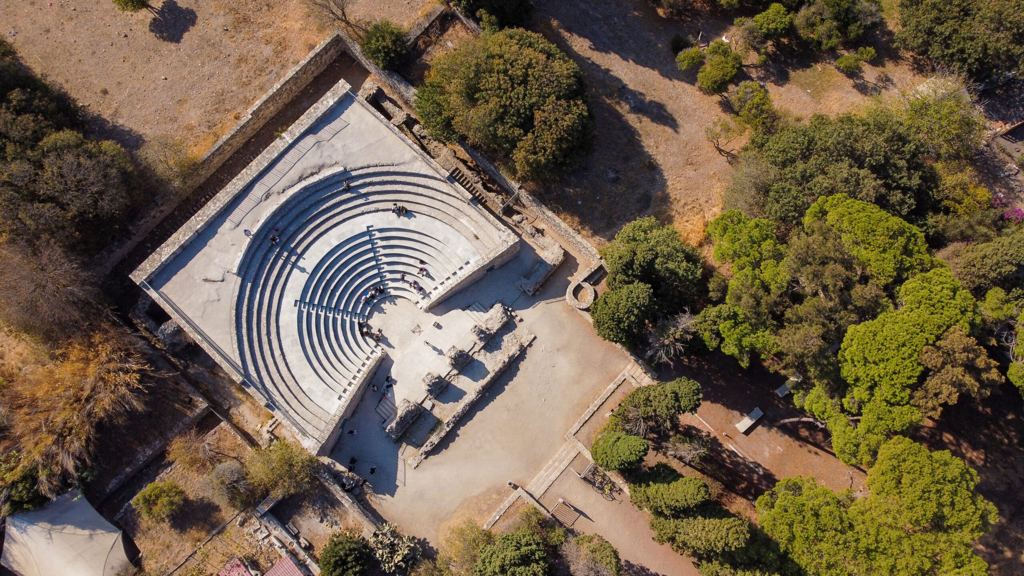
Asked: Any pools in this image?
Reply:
No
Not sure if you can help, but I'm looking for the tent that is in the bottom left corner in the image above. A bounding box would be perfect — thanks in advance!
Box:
[0,488,149,576]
